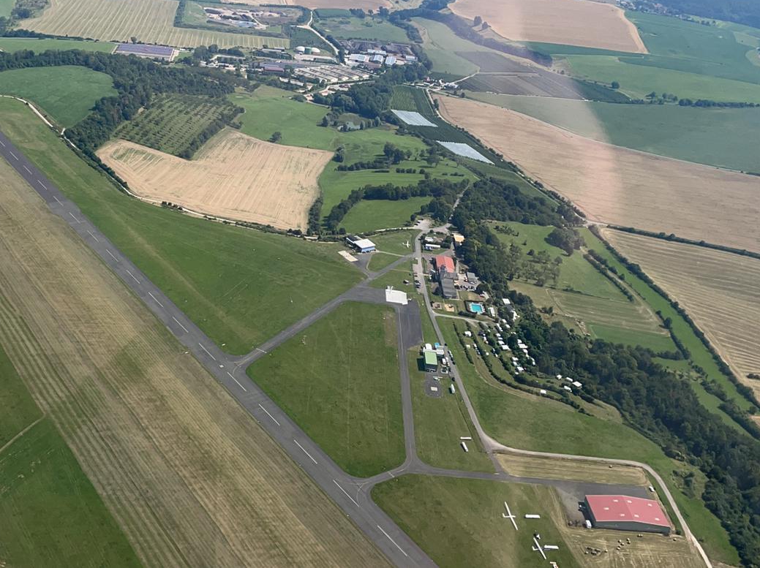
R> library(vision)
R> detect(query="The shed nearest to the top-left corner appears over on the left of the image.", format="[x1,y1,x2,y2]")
[114,42,173,62]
